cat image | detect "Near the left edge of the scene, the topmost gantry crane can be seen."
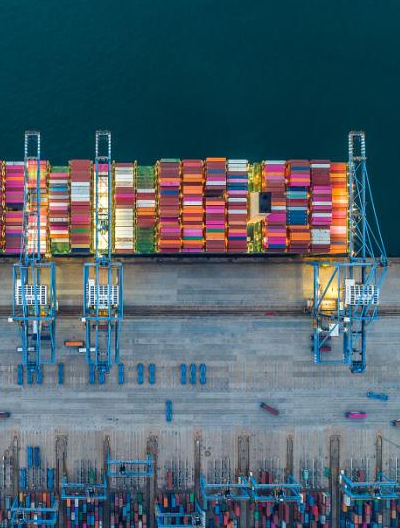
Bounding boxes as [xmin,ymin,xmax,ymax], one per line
[7,124,59,372]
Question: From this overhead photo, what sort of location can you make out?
port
